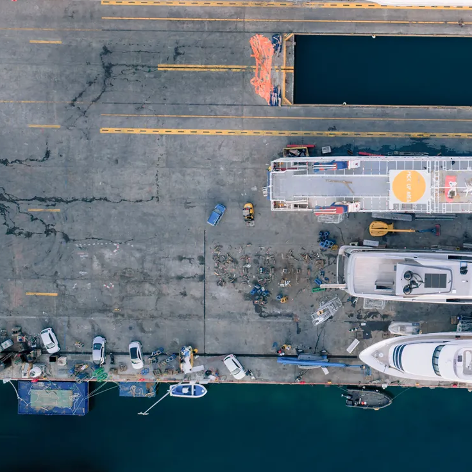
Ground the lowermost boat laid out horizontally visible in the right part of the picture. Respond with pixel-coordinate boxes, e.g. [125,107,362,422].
[341,388,392,411]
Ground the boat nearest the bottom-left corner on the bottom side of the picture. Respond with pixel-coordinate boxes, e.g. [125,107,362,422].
[171,383,208,398]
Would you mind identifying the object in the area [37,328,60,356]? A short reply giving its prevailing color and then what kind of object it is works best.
white car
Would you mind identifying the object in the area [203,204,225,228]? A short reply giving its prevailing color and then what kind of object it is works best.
blue car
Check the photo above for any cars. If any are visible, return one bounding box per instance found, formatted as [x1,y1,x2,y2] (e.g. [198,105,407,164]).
[221,356,243,382]
[125,342,143,371]
[37,328,60,356]
[89,337,106,366]
[203,204,225,228]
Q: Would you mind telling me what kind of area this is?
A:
port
